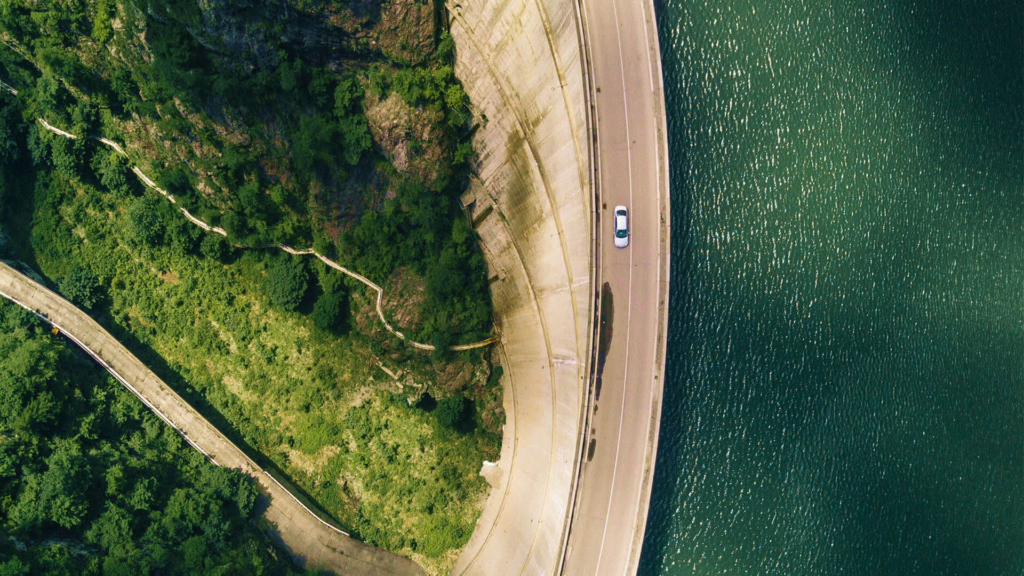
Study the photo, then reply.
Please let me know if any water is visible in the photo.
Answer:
Yes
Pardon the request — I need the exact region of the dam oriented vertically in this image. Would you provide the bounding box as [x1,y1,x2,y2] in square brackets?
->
[444,0,670,576]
